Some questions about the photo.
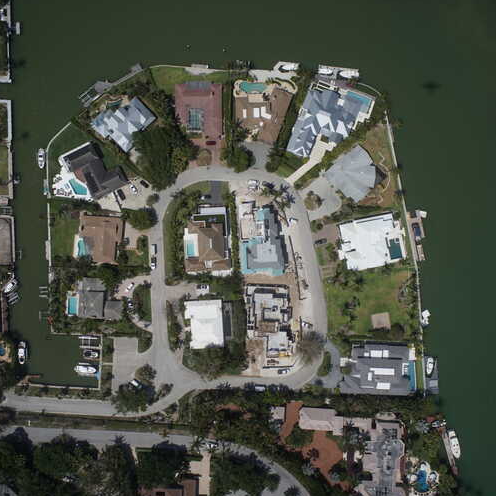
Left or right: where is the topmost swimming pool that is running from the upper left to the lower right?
right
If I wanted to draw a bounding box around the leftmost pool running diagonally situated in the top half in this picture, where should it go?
[69,177,88,195]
